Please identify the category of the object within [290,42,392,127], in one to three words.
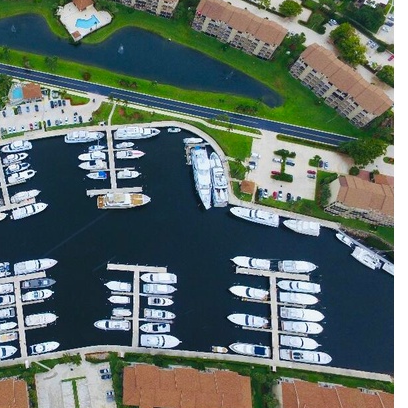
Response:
building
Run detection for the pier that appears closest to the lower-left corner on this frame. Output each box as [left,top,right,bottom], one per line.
[0,271,47,358]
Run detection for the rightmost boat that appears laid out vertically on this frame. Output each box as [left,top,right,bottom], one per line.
[209,152,228,210]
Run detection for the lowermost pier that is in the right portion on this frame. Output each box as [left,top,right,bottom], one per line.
[236,268,311,359]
